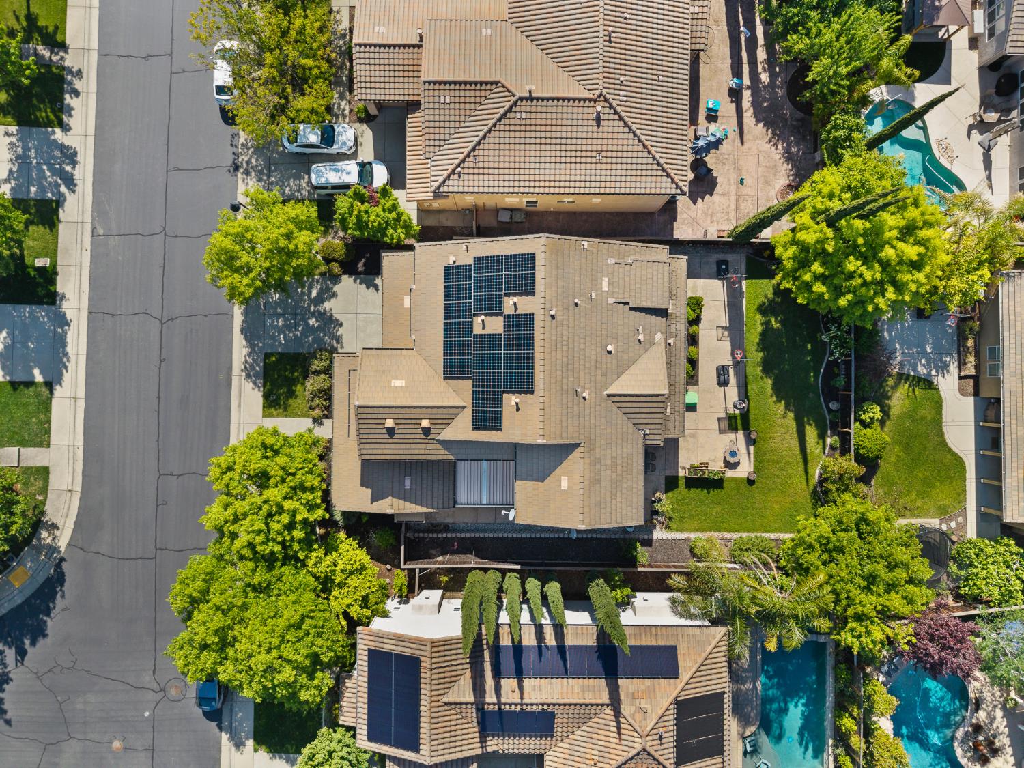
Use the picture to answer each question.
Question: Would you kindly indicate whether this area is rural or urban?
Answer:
urban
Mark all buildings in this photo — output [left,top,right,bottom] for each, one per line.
[979,268,1024,526]
[970,0,1024,237]
[337,590,730,768]
[330,234,688,531]
[350,0,714,211]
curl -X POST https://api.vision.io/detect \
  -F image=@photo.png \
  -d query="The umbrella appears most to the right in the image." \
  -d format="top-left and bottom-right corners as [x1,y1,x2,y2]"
[972,126,1023,150]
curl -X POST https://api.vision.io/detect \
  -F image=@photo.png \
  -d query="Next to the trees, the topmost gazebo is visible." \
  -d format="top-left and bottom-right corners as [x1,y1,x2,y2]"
[905,0,972,44]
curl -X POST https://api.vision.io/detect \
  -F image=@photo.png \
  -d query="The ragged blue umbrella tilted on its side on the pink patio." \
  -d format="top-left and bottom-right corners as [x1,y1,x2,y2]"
[690,133,728,153]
